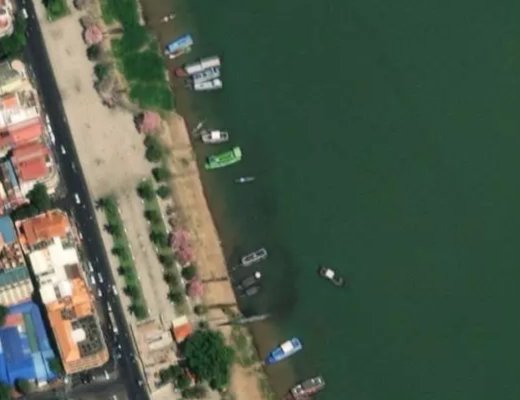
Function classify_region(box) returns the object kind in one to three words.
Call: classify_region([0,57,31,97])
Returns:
house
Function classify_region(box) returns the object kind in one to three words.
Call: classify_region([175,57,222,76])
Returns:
boat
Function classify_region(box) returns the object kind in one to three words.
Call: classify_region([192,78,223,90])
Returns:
boat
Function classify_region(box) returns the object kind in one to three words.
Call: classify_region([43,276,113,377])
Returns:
building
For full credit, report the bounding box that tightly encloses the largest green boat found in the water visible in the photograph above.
[205,146,242,169]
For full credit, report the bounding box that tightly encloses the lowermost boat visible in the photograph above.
[280,373,327,400]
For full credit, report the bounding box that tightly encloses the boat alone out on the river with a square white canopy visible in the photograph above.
[320,266,343,285]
